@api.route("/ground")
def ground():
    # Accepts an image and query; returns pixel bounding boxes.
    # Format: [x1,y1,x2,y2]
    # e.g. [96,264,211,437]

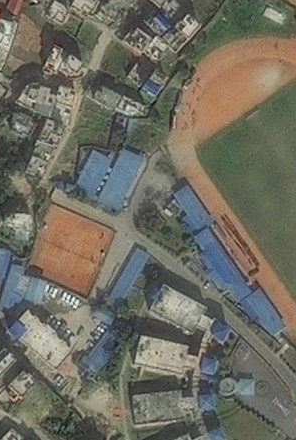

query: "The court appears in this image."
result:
[25,200,118,303]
